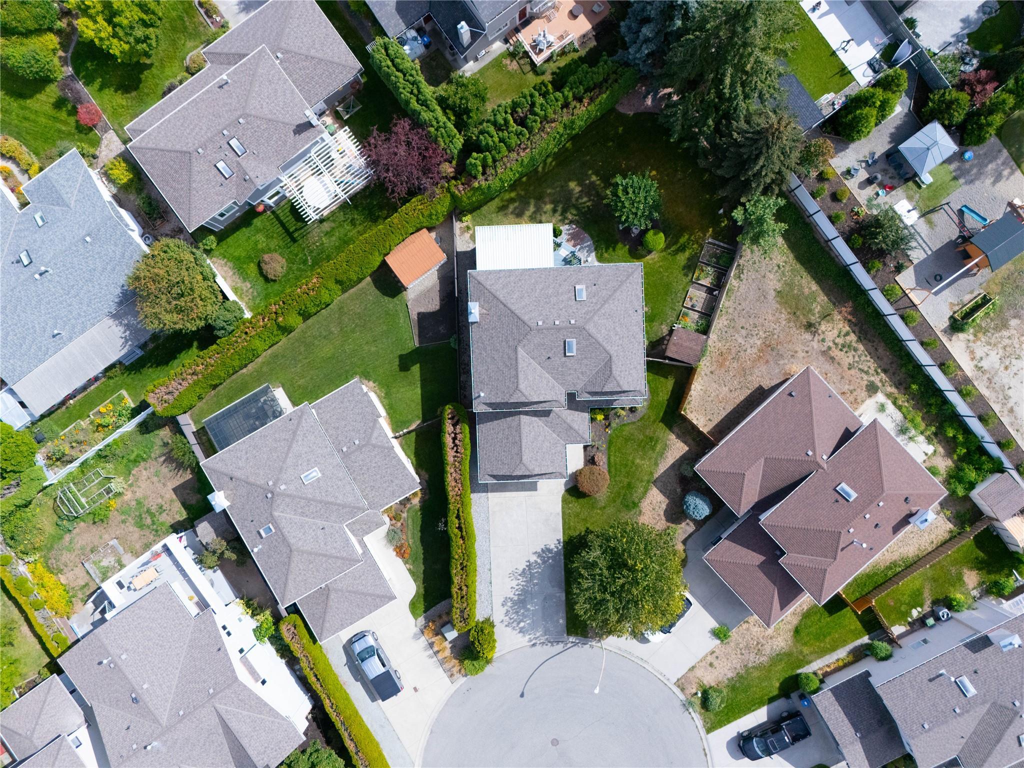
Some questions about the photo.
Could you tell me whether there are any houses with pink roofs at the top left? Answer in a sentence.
No, I can find no house with a pink roof at the top left.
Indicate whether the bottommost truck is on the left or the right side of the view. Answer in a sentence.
The bottommost truck is on the right side of the image.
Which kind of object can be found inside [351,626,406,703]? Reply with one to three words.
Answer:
truck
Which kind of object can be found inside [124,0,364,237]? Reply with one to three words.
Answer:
house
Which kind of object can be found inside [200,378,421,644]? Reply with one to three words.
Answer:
house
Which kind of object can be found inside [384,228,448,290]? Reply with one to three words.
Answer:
shed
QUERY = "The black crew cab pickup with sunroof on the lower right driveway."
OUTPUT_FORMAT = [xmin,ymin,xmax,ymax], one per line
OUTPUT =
[736,709,814,761]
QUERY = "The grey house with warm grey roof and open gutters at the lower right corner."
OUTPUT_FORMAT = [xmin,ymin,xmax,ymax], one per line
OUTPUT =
[807,589,1024,768]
